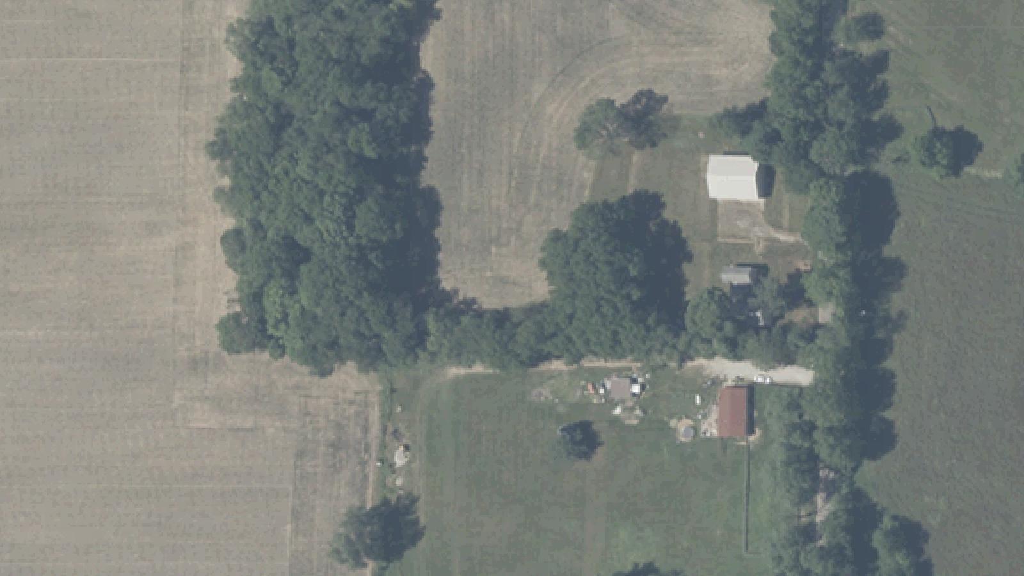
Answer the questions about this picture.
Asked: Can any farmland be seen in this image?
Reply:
Yes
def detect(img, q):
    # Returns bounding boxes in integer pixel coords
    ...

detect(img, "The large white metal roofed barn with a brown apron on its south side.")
[708,153,761,201]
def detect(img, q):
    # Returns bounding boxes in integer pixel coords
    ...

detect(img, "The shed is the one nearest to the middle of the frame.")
[611,378,631,397]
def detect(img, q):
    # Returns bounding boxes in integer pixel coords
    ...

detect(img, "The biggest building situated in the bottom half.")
[718,386,749,438]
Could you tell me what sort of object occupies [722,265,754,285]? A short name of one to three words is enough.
shed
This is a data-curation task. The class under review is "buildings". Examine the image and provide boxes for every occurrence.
[722,265,754,285]
[611,378,631,397]
[718,386,749,438]
[708,153,761,201]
